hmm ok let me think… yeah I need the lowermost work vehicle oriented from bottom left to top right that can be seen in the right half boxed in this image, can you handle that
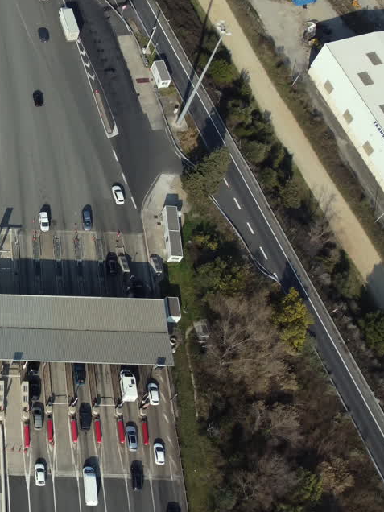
[308,29,325,46]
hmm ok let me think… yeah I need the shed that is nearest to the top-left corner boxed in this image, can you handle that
[151,57,174,89]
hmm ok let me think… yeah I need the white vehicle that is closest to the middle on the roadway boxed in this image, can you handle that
[112,186,125,204]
